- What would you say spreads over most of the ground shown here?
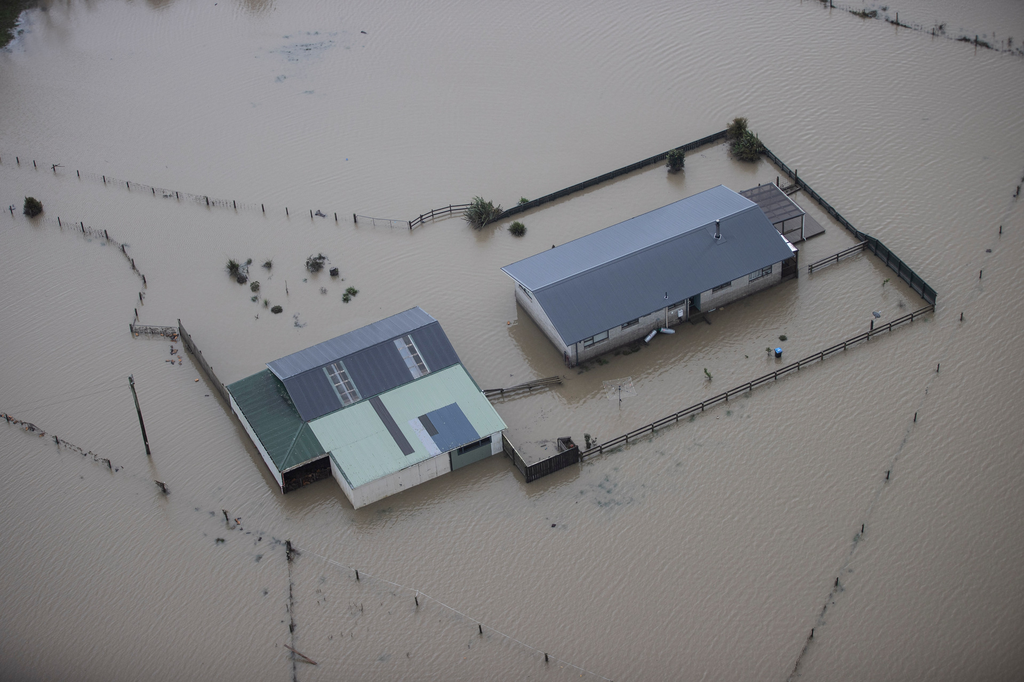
water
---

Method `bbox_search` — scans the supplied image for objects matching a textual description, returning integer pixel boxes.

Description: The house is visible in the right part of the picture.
[500,184,802,366]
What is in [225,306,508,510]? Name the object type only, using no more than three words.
shed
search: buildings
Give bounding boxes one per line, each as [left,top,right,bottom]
[225,306,508,510]
[500,184,802,366]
